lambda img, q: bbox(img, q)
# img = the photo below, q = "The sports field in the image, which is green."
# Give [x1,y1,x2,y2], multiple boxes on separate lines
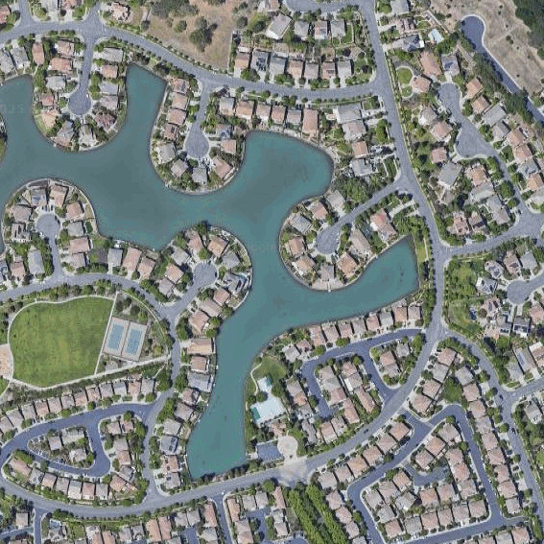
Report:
[9,299,113,388]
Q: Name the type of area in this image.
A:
residential area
